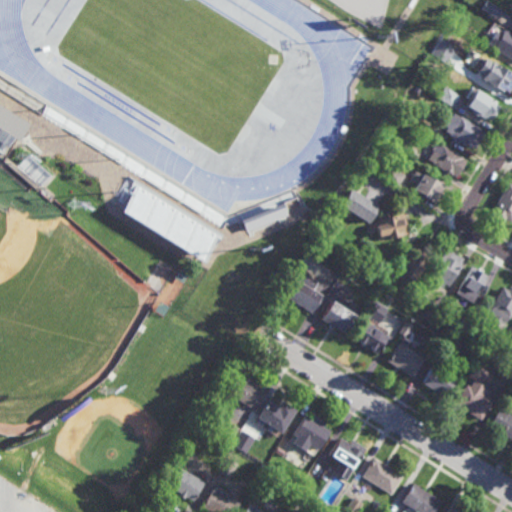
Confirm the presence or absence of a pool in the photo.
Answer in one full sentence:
Yes, there's a pool down there.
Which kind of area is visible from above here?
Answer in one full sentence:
The picture captures a sports ground.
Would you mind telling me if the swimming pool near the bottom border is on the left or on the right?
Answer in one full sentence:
You can find the swimming pool near the bottom border on the right side of the picture.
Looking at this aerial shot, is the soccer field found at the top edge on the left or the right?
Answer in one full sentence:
The soccer field found at the top edge sits on the left side.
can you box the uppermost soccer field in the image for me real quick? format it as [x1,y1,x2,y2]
[60,0,282,154]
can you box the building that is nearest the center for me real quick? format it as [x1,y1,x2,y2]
[245,204,290,234]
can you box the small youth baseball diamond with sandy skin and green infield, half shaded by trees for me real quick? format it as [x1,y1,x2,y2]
[54,396,163,491]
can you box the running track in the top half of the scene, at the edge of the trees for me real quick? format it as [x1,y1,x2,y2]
[0,0,371,211]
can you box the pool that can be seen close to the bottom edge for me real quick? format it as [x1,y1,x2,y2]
[317,476,350,512]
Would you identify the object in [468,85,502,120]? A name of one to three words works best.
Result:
house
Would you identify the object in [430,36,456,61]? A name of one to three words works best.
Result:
building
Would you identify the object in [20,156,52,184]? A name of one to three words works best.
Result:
building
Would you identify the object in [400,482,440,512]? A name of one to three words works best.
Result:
house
